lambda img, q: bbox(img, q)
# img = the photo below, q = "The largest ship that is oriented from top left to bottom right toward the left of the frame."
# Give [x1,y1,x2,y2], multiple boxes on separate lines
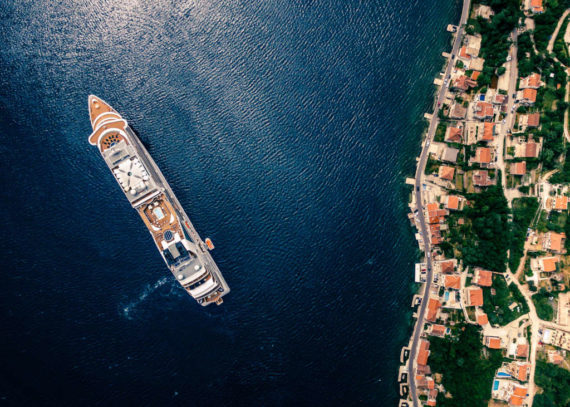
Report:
[87,94,229,308]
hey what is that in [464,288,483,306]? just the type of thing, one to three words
house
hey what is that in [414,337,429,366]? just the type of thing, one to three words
house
